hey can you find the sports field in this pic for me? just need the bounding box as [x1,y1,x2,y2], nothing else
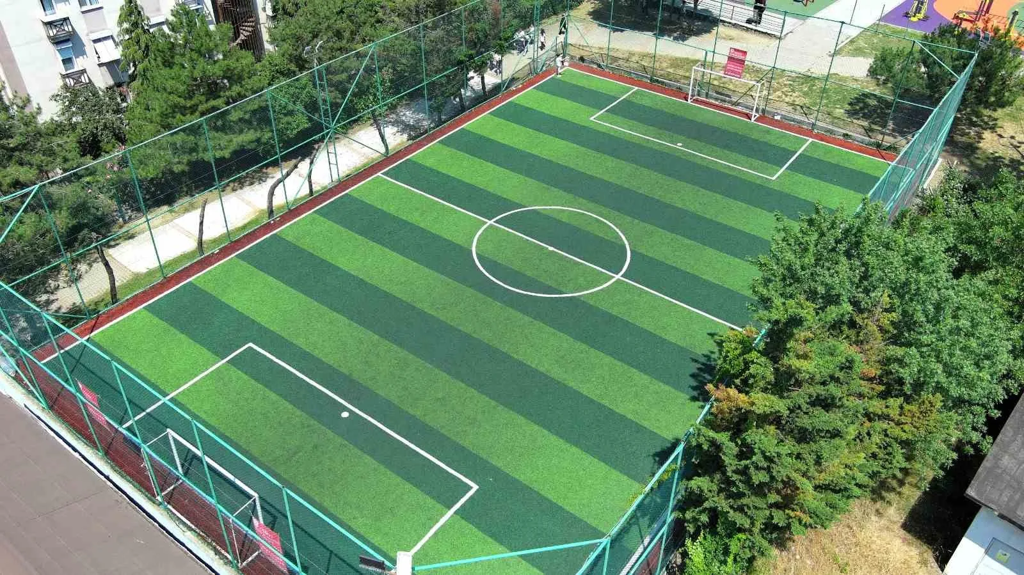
[48,69,908,575]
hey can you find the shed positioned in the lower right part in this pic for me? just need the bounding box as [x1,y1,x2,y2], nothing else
[946,399,1024,575]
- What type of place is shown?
sports ground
